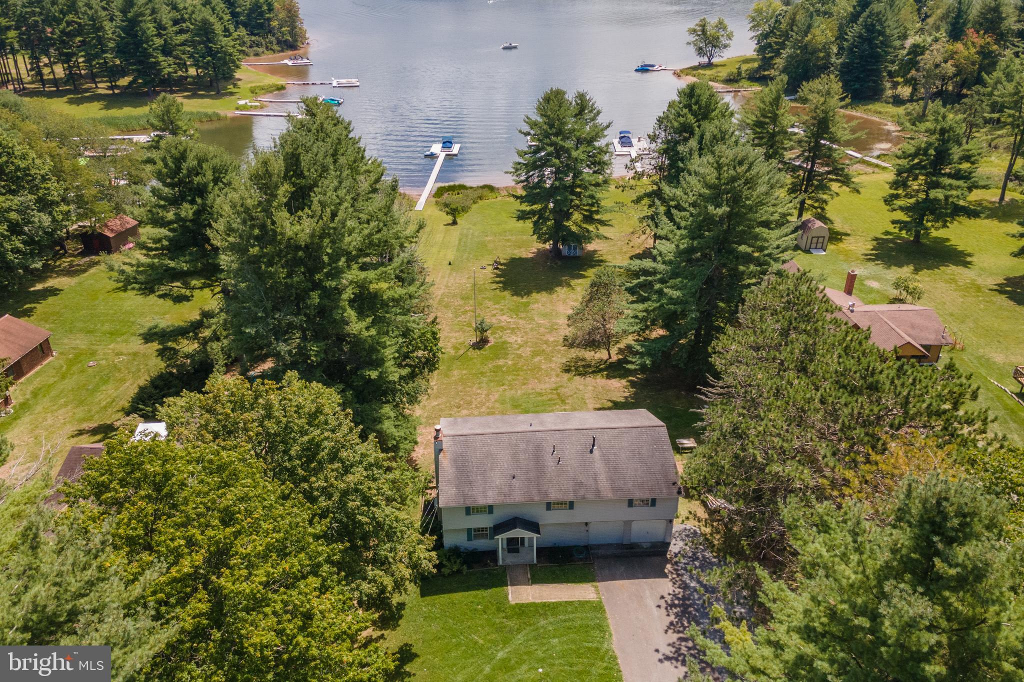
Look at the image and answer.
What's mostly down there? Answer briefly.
trees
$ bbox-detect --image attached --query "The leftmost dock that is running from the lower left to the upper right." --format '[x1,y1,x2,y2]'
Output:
[420,144,465,198]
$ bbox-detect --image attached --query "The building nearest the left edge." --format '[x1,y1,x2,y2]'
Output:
[0,318,59,403]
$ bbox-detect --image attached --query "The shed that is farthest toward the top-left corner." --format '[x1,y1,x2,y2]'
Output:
[69,215,123,255]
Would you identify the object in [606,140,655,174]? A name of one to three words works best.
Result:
pier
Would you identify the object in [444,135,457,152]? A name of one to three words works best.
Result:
boat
